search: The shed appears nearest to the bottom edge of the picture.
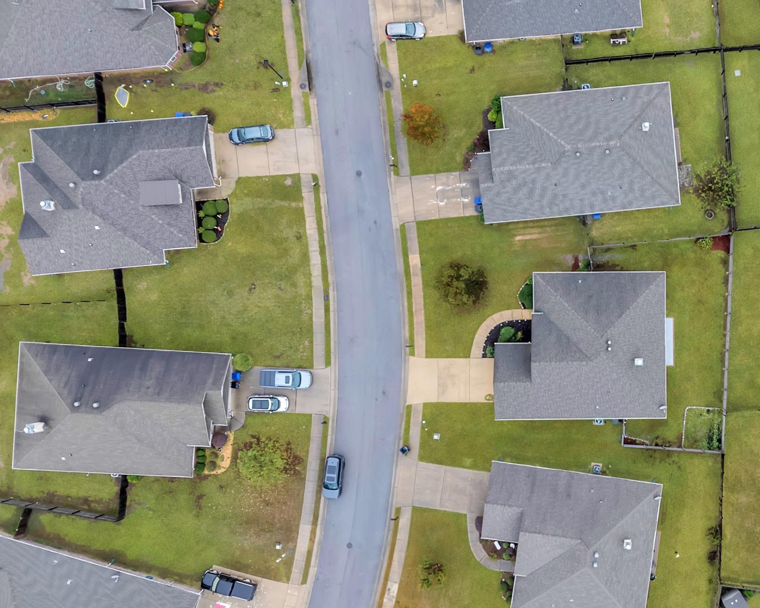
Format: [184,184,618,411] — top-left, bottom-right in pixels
[720,590,748,608]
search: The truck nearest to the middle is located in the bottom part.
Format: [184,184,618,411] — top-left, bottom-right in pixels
[258,368,313,390]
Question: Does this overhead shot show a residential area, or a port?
residential area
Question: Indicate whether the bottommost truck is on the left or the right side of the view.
left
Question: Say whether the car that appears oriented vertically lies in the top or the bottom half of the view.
bottom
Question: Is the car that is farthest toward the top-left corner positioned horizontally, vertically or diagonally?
horizontally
